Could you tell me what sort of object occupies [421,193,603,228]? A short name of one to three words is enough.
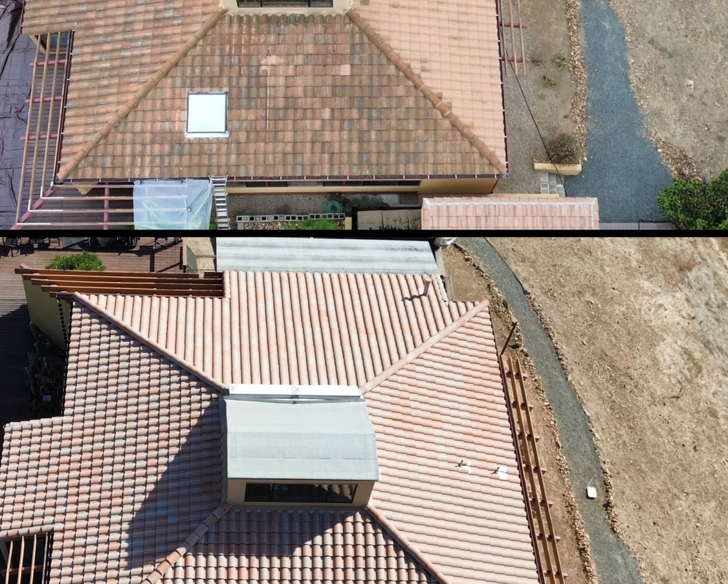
shed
